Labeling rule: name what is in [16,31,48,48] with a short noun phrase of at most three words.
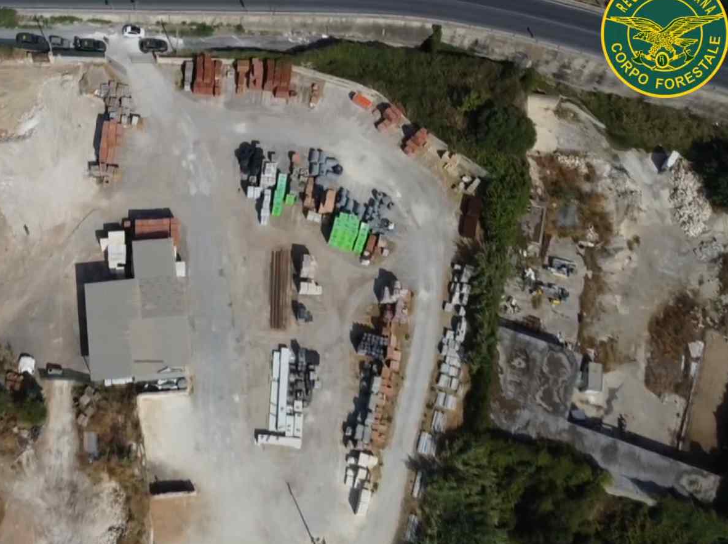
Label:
vehicle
